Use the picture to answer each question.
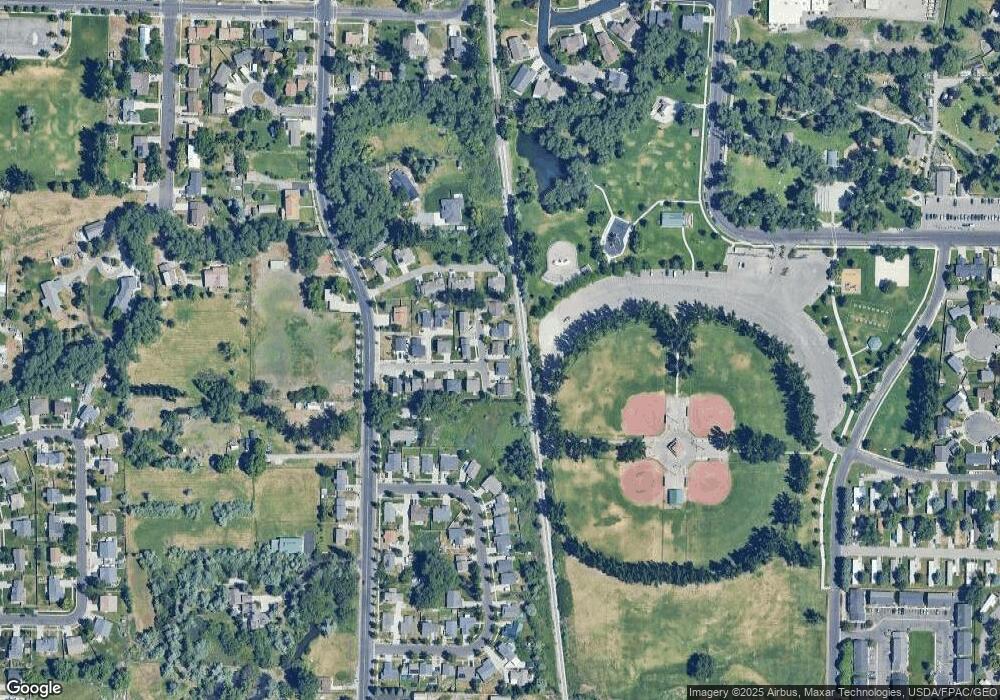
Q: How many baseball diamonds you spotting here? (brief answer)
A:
4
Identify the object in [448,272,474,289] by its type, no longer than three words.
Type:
house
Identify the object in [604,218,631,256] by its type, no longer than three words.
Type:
playground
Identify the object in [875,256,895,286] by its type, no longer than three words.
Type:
sports court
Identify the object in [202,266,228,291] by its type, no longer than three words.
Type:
barn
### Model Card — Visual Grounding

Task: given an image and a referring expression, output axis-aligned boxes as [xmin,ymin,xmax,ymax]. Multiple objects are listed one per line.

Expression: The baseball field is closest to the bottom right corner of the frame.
[685,453,792,561]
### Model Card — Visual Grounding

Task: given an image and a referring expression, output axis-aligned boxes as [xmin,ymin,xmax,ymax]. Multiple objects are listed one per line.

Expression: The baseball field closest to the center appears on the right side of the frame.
[564,331,666,438]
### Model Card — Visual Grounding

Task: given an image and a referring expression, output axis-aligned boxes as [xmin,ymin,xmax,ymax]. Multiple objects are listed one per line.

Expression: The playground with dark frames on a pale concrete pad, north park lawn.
[651,97,676,123]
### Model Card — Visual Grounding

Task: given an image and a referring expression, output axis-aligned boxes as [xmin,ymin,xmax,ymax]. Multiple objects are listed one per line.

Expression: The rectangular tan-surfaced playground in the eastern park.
[841,269,860,294]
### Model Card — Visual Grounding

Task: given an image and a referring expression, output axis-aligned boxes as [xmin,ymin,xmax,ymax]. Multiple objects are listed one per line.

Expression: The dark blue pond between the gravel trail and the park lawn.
[515,127,571,192]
